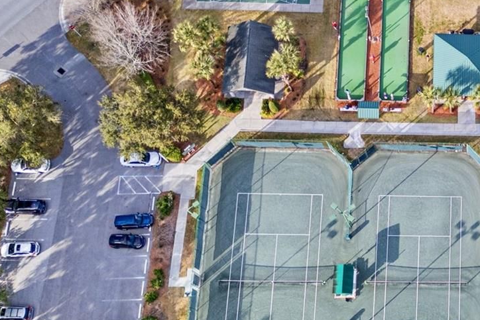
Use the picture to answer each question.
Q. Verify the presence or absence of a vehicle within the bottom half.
Yes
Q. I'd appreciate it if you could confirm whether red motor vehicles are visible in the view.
No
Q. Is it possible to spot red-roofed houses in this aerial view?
No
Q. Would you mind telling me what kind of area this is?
sports ground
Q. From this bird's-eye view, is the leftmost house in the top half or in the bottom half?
top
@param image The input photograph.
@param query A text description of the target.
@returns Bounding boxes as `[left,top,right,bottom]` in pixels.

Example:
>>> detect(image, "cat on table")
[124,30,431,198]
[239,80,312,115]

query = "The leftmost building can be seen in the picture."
[225,21,276,100]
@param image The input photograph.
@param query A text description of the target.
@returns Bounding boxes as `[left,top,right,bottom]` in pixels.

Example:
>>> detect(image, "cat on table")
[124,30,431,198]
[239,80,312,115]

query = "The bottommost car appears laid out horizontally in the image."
[0,304,34,320]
